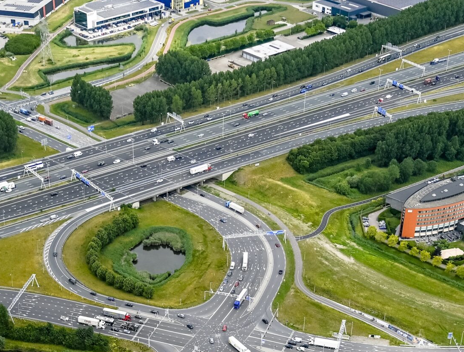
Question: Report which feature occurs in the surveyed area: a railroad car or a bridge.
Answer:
bridge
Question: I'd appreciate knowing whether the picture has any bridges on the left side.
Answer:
Yes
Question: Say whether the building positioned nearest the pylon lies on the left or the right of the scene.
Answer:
left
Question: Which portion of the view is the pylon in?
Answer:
top left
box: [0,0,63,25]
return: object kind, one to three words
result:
building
